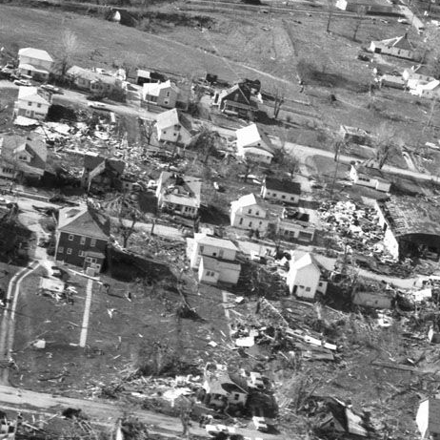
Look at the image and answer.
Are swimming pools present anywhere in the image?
No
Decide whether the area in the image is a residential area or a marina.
residential area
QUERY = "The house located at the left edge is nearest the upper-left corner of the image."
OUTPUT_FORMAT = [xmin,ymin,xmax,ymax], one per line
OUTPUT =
[19,51,56,85]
